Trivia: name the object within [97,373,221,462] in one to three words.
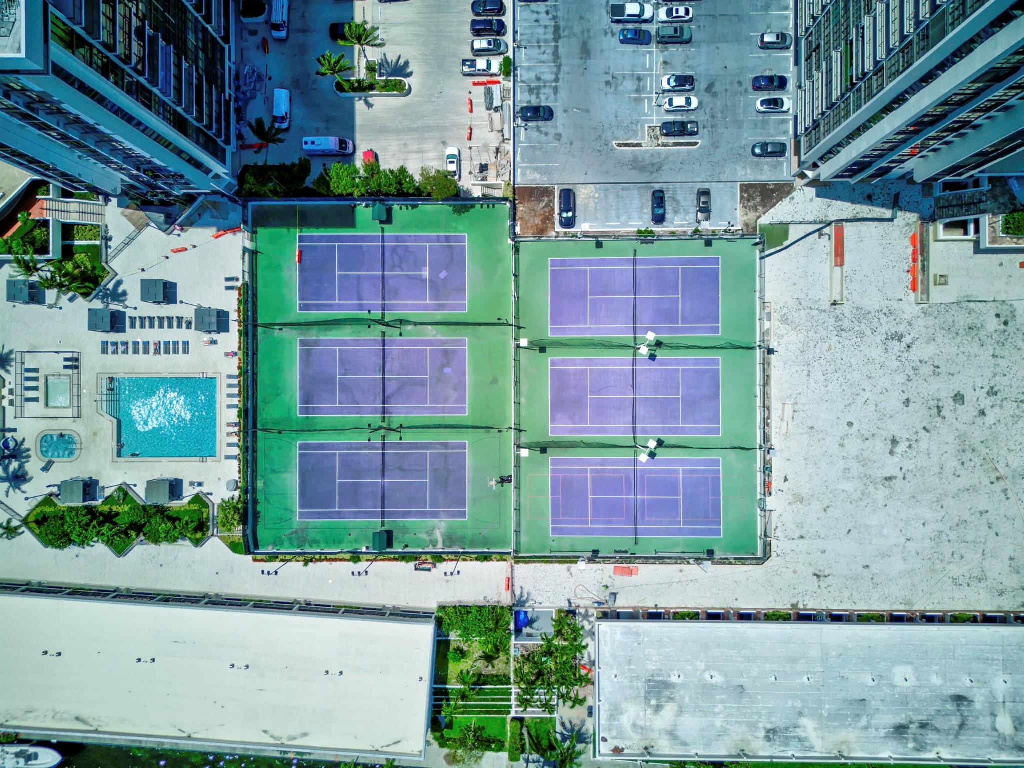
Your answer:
swimming pool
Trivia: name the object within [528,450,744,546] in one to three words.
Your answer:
tennis court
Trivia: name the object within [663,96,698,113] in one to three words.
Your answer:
car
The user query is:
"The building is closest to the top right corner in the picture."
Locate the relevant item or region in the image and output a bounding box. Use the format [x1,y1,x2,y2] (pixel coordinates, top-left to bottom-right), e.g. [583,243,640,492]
[795,0,1024,182]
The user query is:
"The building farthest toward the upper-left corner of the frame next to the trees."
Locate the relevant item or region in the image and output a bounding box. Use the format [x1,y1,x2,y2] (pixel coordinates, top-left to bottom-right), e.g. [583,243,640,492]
[0,0,238,199]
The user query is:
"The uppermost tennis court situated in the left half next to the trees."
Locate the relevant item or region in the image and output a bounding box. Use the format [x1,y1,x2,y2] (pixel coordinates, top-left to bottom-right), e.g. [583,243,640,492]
[298,225,467,320]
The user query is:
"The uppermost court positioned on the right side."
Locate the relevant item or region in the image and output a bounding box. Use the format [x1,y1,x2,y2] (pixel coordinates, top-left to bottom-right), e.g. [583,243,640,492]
[548,248,721,343]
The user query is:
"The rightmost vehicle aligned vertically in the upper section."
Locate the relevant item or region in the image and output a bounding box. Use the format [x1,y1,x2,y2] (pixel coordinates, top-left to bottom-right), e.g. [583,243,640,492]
[695,188,712,224]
